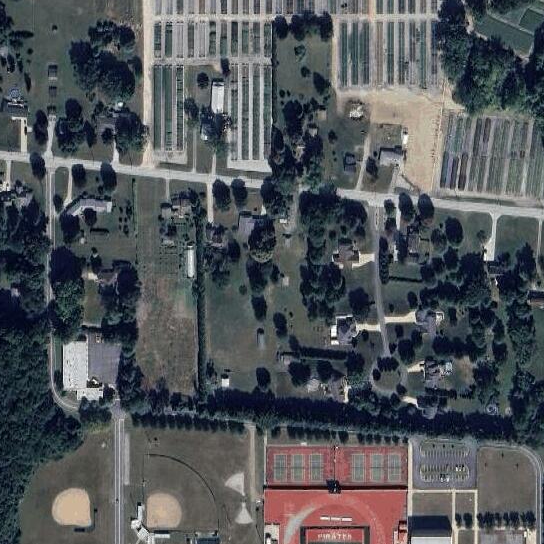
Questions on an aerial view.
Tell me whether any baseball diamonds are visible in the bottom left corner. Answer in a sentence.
Yes, a baseball diamond can be seen in the bottom left corner.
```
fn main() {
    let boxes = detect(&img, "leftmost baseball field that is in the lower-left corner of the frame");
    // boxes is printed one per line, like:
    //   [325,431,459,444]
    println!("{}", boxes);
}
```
[53,488,91,525]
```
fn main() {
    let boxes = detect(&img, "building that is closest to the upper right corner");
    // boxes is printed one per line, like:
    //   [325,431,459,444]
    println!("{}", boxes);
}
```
[379,149,403,165]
